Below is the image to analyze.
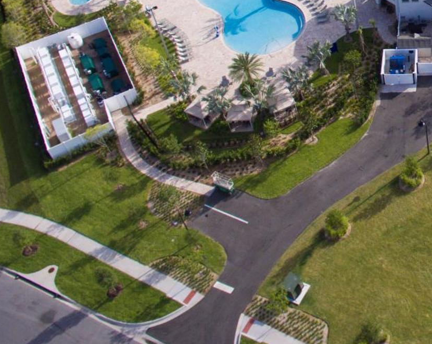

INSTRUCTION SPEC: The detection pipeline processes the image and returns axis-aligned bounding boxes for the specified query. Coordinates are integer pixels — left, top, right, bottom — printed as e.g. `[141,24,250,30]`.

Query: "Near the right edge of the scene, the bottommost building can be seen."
[379,49,419,84]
